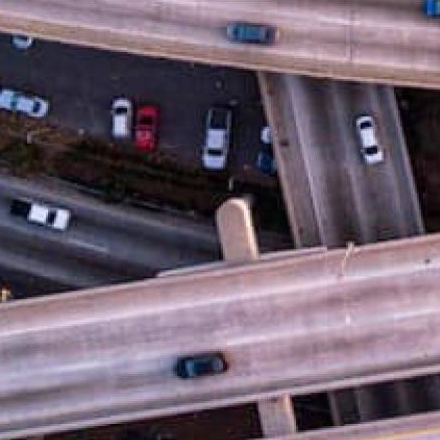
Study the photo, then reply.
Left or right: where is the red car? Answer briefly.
left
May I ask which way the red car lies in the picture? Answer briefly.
vertically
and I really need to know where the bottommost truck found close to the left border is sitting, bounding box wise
[10,199,71,230]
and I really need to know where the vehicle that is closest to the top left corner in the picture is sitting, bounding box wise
[10,32,35,48]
